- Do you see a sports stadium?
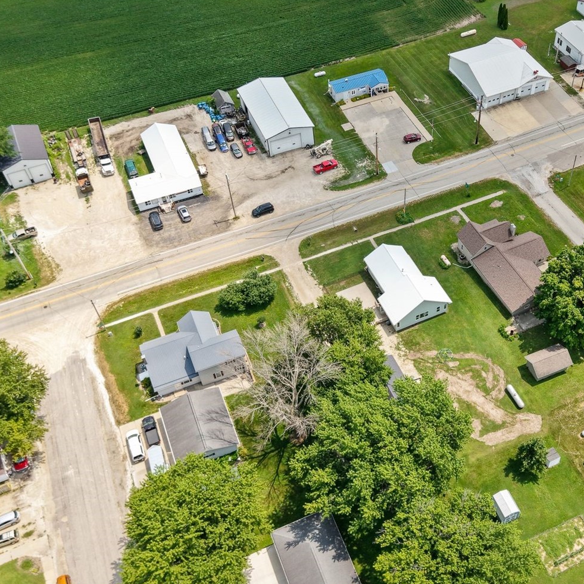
No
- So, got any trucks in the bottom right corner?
No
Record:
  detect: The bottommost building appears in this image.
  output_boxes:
[273,510,364,584]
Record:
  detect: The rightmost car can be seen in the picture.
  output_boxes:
[402,132,423,145]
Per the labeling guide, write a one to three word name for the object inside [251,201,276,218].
car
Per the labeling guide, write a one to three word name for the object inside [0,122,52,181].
building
